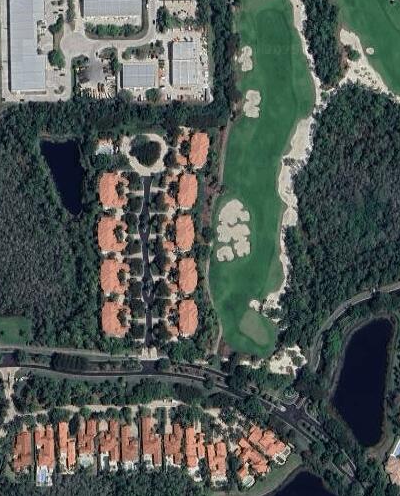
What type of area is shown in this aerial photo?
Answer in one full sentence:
What you see here is a residential area.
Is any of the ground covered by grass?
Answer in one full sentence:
Yes, some grass is visible.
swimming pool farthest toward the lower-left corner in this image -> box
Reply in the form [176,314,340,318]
[36,465,53,486]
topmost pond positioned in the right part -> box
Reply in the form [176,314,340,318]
[333,315,395,445]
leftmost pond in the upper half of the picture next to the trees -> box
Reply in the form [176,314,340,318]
[42,139,84,214]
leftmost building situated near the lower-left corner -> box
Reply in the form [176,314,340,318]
[15,432,35,471]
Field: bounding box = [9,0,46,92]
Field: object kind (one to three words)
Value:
building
